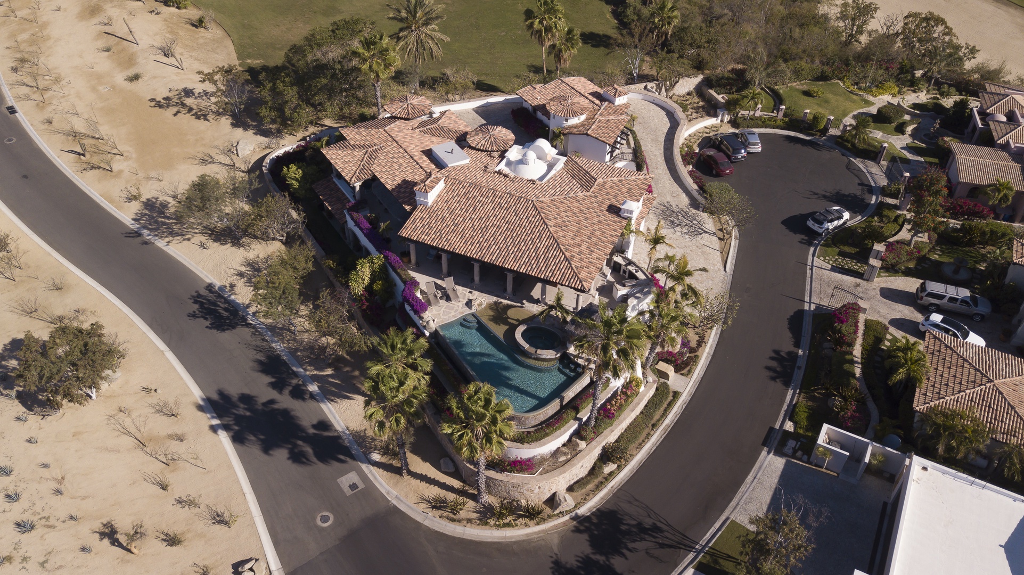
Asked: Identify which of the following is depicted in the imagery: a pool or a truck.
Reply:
pool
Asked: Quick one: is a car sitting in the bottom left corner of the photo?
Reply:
No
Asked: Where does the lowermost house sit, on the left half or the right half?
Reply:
right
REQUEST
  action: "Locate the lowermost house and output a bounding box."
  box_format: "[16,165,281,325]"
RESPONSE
[879,454,1024,575]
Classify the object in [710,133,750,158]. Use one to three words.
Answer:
car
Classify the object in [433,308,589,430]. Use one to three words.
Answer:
swimming pool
